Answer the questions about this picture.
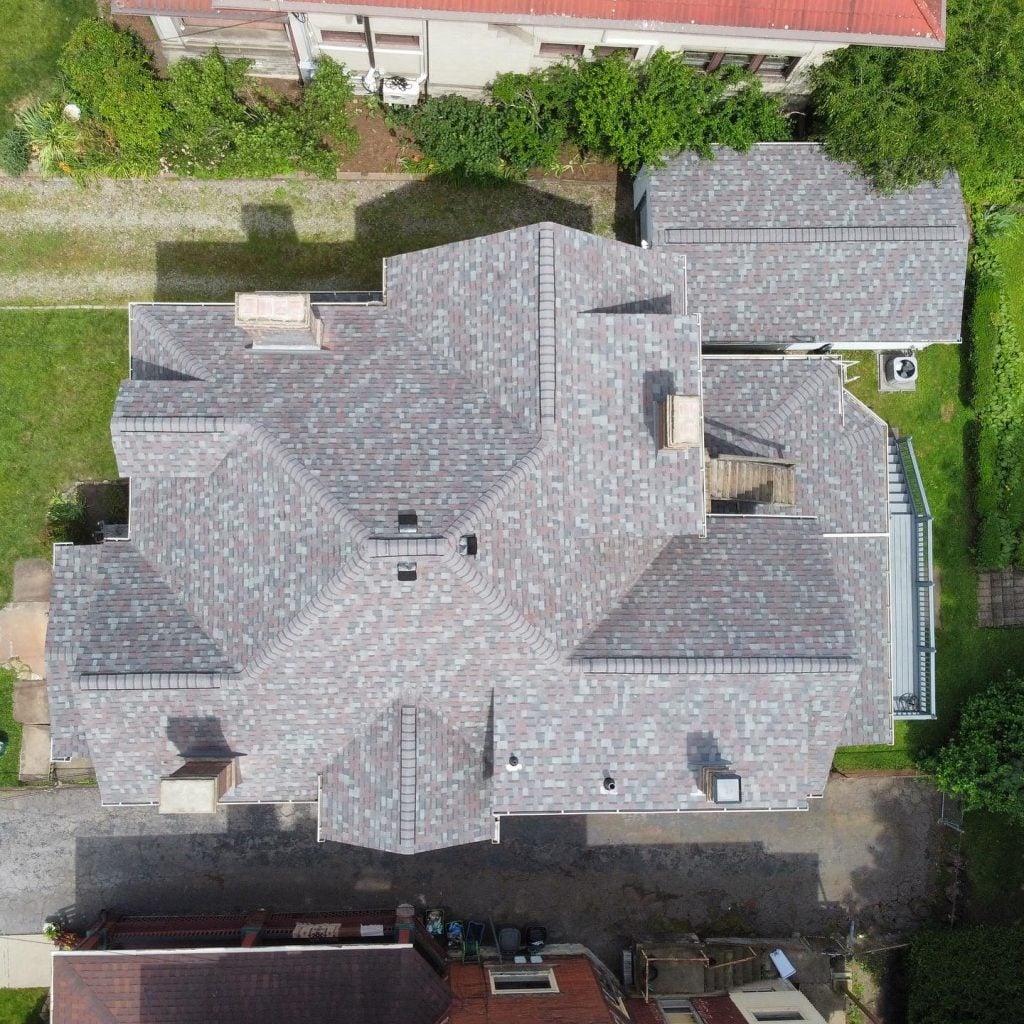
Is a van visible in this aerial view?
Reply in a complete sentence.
No, no van can be seen from above.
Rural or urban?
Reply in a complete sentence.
It looks urban.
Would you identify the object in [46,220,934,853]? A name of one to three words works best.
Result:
house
